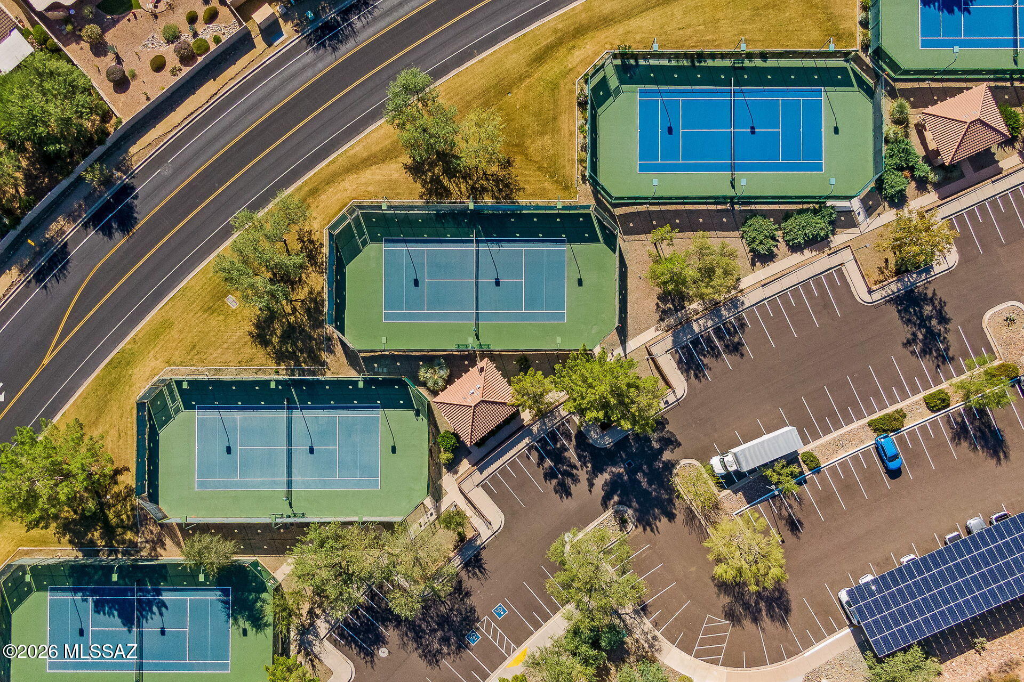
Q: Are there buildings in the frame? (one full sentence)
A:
Yes, the frame does contain a building.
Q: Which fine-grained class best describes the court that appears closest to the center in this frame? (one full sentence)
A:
The court that appears closest to the center in the image is a tennis court.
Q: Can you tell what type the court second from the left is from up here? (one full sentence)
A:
It turns out the court second from the left is a tennis court.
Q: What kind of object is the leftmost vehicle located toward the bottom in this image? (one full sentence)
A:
The leftmost vehicle located toward the bottom in the image is a truck.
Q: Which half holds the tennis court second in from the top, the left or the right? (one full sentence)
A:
The tennis court second in from the top sits on the right side.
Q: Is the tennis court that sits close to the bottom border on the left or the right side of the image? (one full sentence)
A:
It is on the left.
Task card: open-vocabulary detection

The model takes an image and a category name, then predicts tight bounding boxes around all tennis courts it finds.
[587,58,873,202]
[335,210,615,350]
[0,558,281,682]
[869,0,1024,78]
[147,376,432,518]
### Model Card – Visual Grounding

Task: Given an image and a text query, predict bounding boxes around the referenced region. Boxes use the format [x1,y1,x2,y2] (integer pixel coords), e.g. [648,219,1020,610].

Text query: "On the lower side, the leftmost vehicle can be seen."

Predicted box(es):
[707,426,809,476]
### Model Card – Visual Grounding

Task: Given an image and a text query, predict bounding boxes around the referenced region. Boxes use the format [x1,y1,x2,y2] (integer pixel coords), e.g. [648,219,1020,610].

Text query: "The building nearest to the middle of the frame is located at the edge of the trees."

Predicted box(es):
[433,359,520,446]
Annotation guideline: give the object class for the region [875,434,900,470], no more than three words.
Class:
car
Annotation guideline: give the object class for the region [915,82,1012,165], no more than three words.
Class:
building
